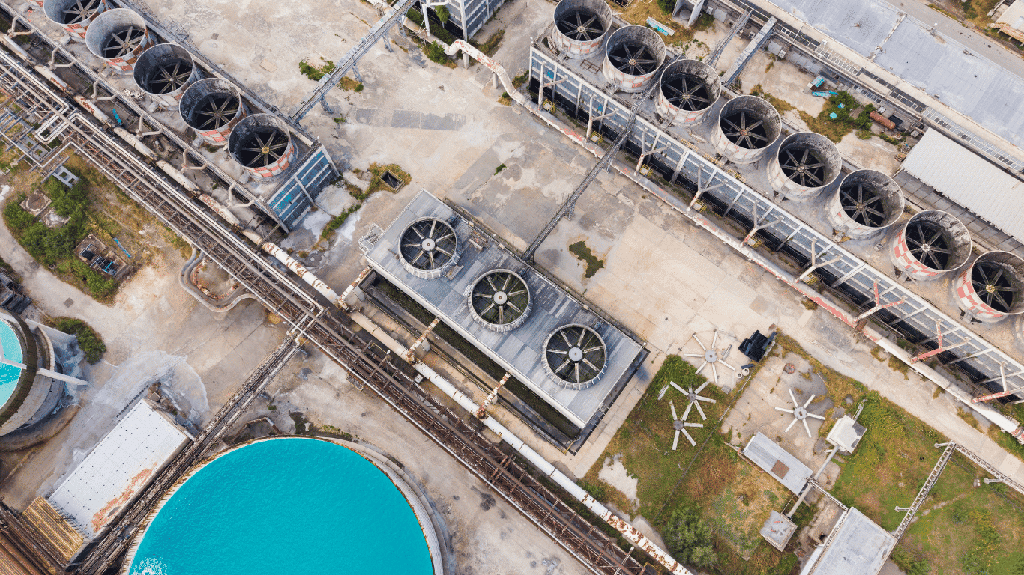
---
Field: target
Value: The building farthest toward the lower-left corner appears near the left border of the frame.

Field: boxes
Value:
[49,400,188,542]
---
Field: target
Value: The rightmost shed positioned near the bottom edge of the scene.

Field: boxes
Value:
[795,504,901,575]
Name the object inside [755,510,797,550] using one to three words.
shed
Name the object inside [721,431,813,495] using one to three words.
shed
